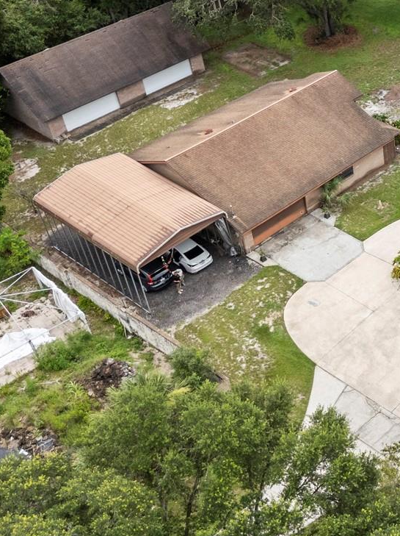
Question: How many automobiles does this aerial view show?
2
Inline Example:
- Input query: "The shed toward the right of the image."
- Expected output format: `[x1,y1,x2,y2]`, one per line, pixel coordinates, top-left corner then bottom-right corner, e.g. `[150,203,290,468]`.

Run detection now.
[123,70,400,253]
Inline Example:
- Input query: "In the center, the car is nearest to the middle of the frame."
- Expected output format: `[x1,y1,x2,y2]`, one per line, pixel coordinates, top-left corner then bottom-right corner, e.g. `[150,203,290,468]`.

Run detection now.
[165,238,211,270]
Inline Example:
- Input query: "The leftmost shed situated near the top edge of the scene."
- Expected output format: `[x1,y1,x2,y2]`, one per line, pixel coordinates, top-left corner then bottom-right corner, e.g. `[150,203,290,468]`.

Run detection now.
[0,0,225,139]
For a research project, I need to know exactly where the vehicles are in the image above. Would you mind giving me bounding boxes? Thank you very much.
[109,259,172,292]
[165,238,211,270]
